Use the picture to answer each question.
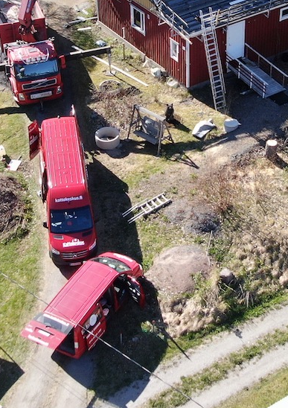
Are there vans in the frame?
Yes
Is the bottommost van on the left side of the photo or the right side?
left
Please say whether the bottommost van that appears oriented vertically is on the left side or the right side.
left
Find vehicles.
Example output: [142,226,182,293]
[20,255,145,352]
[0,0,114,110]
[23,113,100,259]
